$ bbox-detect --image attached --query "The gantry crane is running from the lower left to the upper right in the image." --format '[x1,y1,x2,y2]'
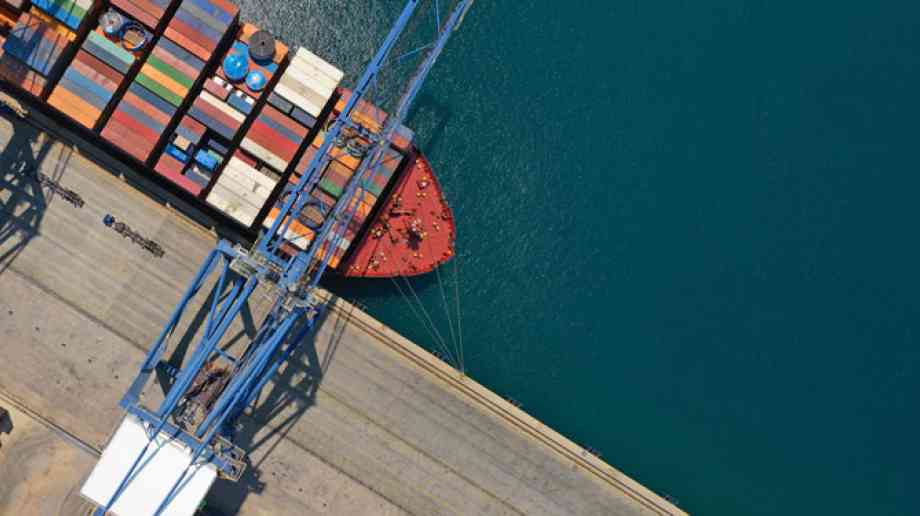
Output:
[79,0,475,516]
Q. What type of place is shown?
port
